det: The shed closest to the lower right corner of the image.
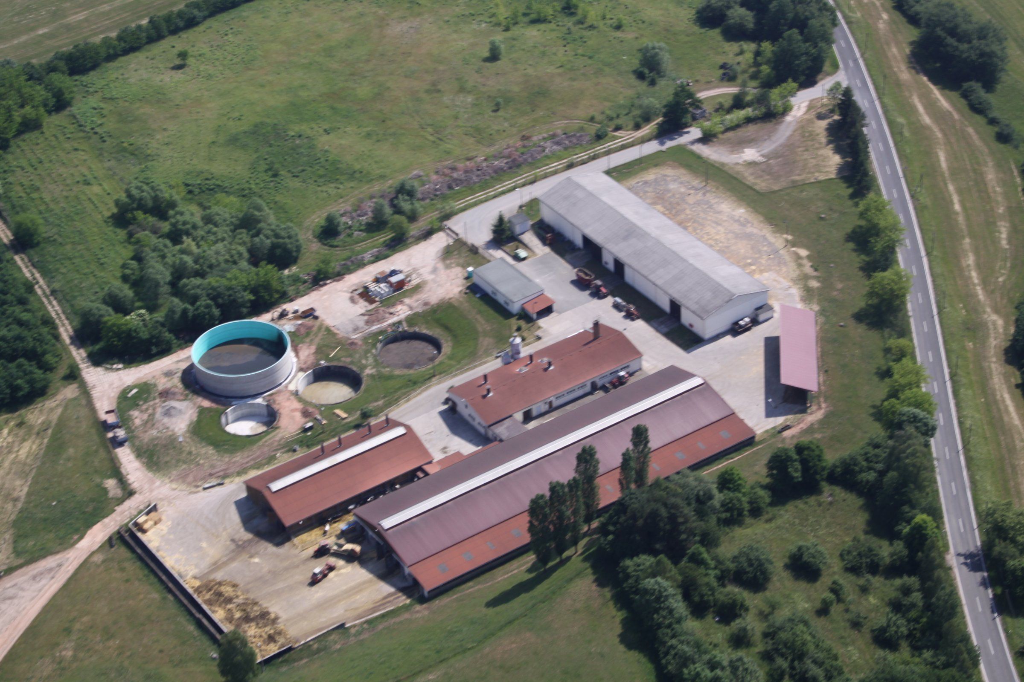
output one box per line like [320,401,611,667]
[780,304,818,405]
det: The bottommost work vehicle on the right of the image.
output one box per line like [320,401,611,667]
[605,370,630,390]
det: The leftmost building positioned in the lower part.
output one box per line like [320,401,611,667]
[245,414,435,538]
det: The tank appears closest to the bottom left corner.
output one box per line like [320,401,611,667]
[191,319,300,401]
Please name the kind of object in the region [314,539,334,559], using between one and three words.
work vehicle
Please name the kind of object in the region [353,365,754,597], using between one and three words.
barn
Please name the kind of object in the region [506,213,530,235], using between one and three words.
shed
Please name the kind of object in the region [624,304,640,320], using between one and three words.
work vehicle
